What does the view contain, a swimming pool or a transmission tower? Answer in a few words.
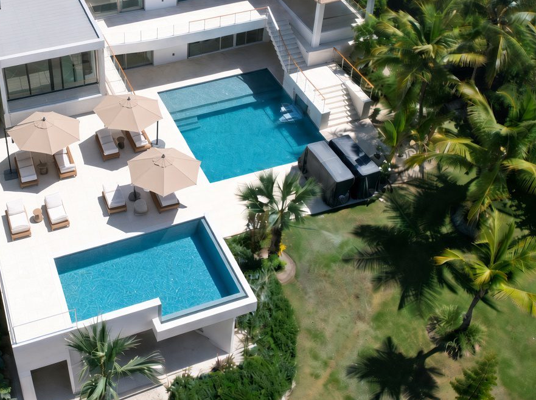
swimming pool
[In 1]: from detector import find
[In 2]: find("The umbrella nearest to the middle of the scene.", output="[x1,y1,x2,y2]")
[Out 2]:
[122,142,205,203]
